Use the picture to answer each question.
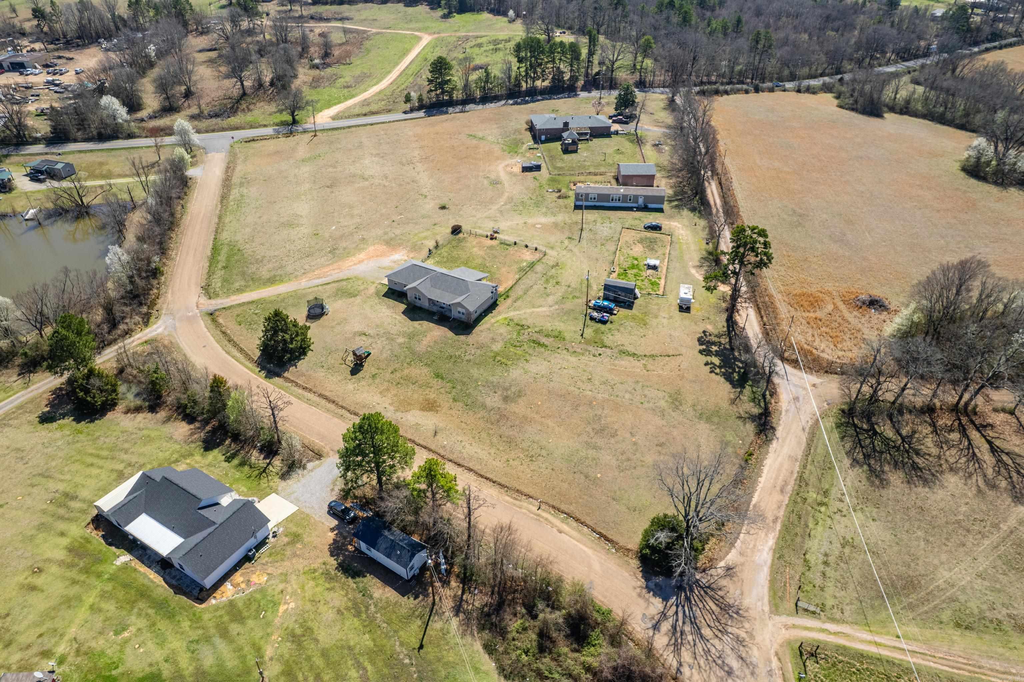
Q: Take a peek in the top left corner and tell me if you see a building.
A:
Yes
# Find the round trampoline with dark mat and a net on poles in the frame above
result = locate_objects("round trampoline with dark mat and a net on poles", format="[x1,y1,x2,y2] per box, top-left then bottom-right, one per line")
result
[304,297,330,316]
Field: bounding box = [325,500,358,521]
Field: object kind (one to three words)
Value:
car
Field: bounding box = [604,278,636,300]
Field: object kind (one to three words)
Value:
shed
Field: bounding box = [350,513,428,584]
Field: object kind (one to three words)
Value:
building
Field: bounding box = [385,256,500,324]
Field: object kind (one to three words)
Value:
house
